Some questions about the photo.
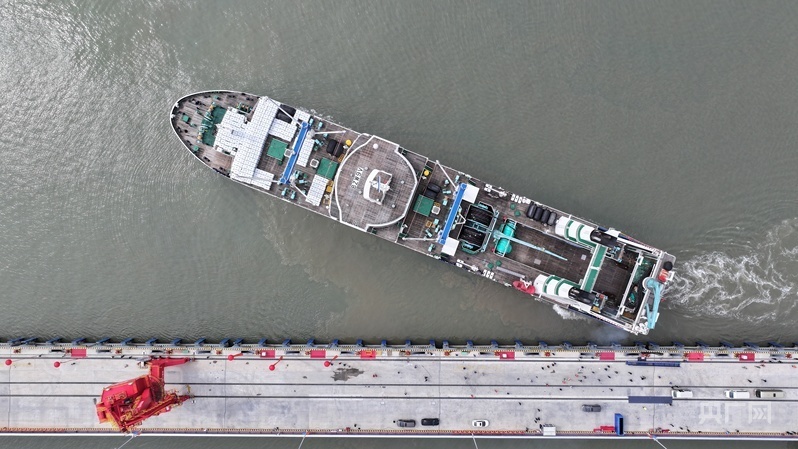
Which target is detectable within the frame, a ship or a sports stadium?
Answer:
ship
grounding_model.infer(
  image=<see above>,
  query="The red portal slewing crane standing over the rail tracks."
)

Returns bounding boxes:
[93,353,197,433]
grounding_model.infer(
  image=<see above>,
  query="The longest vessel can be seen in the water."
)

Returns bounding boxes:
[170,87,677,338]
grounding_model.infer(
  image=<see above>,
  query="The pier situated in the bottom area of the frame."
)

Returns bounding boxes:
[0,342,798,440]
